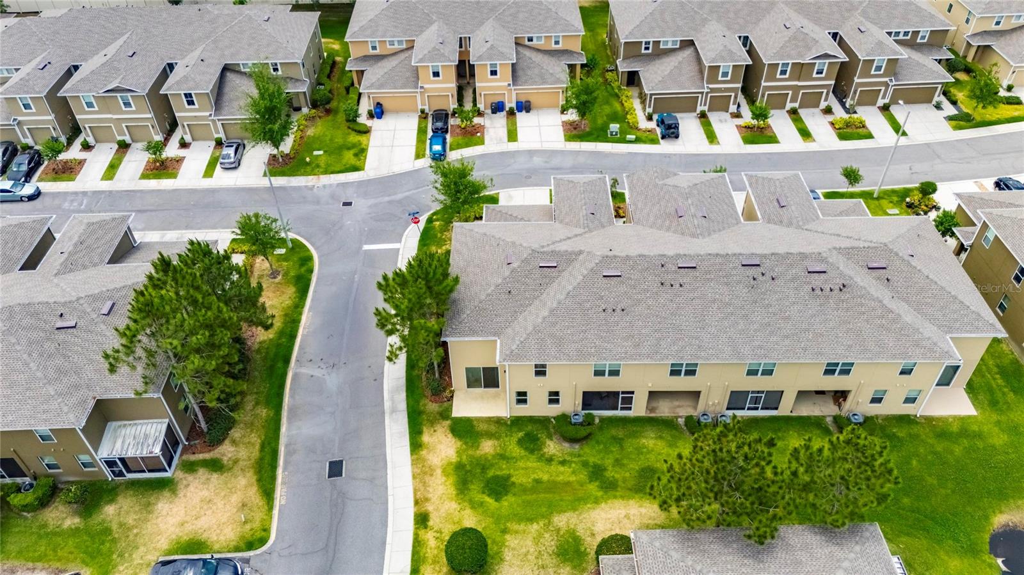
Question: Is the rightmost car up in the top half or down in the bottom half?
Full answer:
The top half of the photo is where the rightmost car is.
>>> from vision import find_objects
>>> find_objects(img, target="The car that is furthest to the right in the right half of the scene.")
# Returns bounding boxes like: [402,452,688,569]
[996,172,1024,193]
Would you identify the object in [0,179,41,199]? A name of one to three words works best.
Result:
car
